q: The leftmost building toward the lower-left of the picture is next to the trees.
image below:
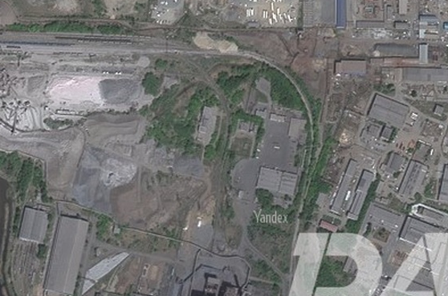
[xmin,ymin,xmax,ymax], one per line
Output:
[20,207,48,243]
